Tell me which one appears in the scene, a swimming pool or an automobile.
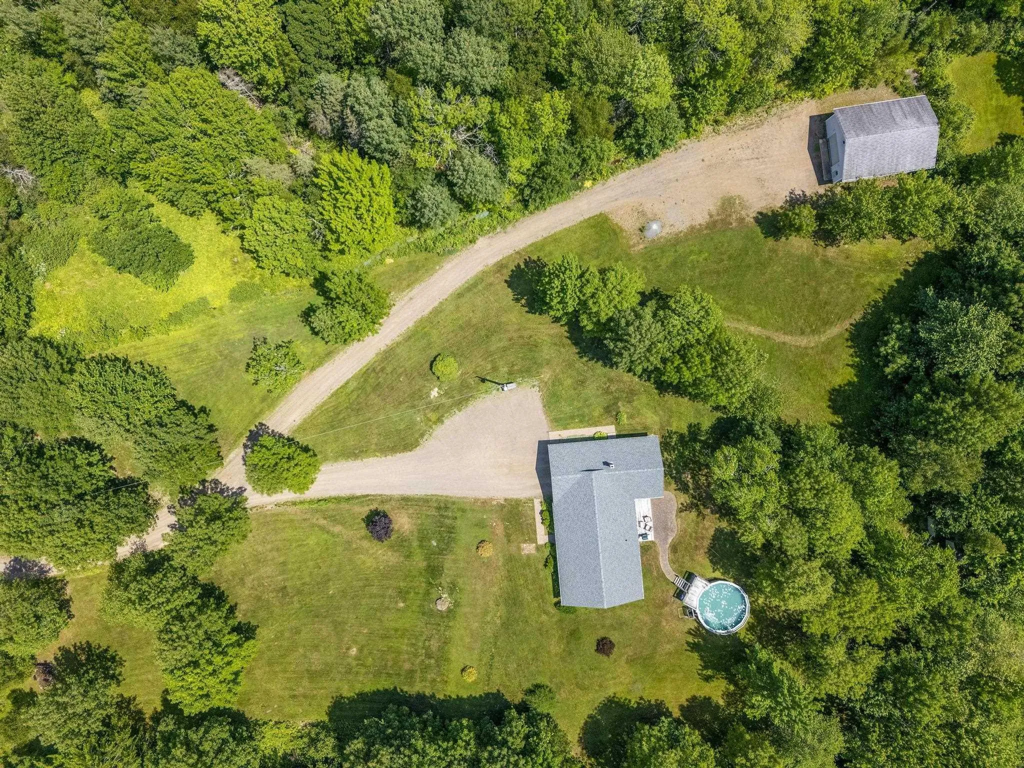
swimming pool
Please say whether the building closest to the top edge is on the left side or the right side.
right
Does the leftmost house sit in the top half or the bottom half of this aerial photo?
bottom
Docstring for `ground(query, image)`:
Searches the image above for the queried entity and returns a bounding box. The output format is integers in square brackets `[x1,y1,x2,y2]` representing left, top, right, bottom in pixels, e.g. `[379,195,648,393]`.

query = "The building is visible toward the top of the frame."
[826,94,943,185]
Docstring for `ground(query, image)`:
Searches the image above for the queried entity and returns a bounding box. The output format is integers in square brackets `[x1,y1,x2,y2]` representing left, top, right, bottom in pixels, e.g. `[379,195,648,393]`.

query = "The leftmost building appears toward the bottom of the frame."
[548,434,664,609]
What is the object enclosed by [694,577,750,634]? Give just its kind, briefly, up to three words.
swimming pool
